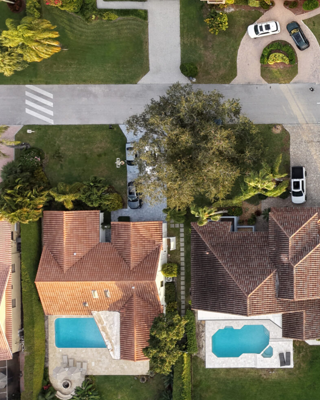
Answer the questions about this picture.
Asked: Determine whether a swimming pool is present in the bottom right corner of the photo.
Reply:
Yes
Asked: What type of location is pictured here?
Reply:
residential area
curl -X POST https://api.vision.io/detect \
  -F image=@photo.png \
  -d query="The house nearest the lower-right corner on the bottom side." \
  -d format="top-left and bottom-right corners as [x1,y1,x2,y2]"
[190,207,320,341]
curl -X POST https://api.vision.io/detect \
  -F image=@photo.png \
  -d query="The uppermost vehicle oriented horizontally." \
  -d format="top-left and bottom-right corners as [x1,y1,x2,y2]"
[249,20,281,39]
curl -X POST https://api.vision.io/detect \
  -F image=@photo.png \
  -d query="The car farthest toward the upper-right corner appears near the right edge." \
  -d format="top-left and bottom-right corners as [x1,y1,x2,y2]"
[287,20,311,52]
